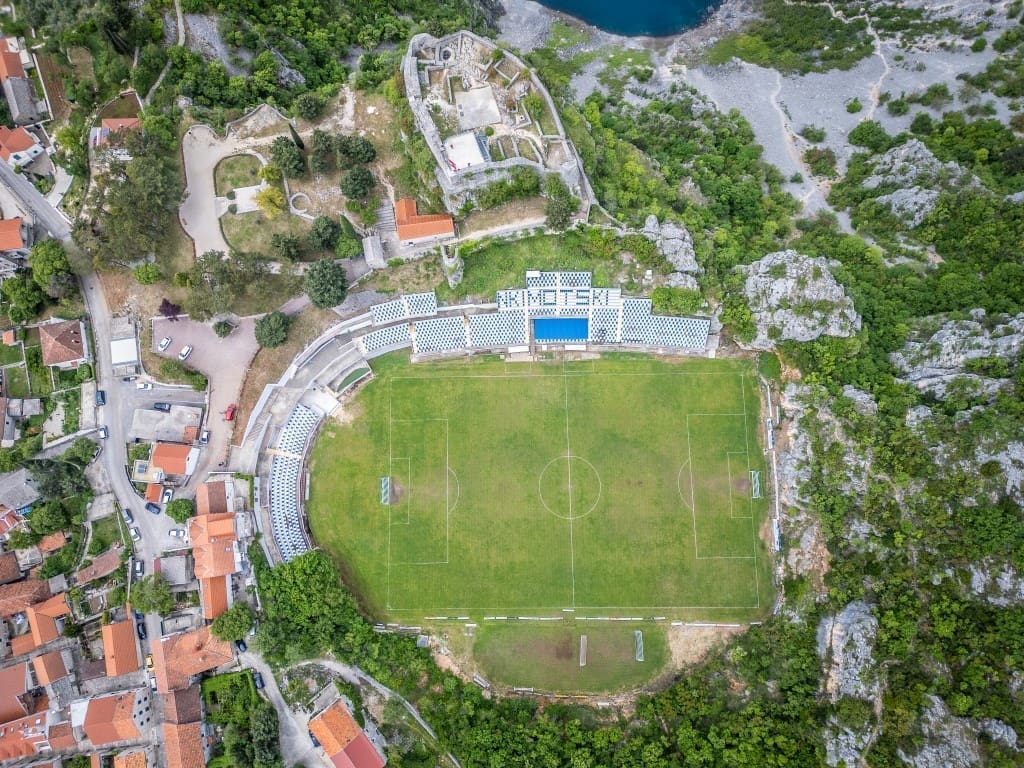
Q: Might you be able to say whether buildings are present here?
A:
Yes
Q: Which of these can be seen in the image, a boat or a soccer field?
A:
soccer field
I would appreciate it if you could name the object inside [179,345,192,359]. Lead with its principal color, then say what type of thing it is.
white vehicle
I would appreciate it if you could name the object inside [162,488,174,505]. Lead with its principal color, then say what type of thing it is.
white vehicle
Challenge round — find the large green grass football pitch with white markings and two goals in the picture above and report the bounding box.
[306,355,779,627]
